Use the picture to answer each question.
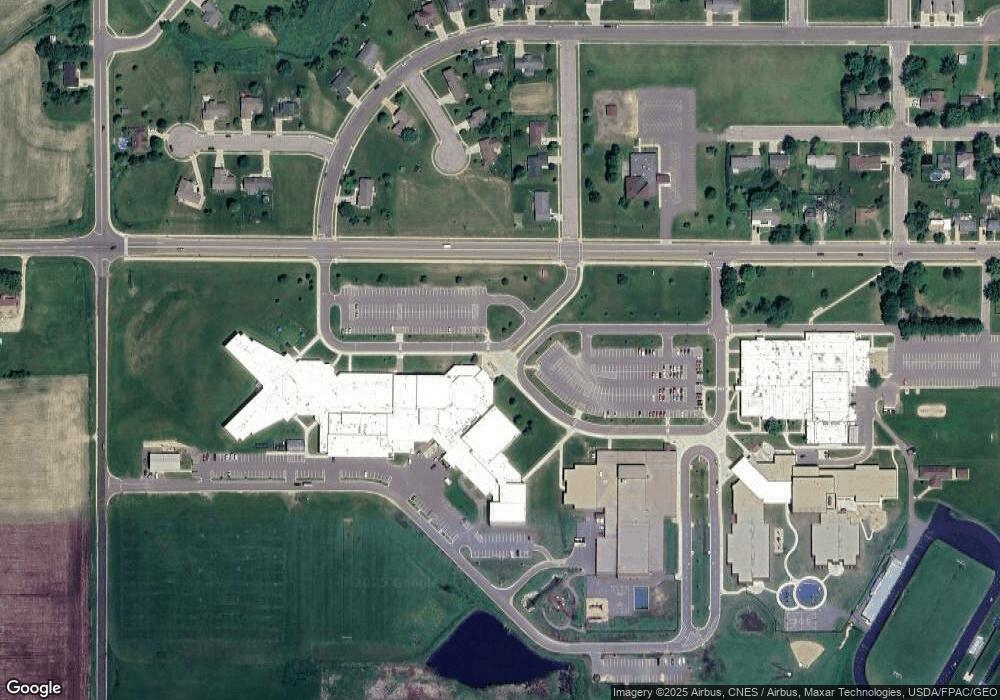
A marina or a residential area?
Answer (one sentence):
This image shows a residential area.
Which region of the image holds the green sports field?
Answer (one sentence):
The green sports field is in the bottom right part of the image.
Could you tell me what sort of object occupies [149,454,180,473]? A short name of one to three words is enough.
building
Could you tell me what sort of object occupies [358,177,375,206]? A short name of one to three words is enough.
house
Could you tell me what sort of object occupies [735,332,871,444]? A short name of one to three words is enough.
building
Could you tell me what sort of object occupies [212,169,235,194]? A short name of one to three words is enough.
house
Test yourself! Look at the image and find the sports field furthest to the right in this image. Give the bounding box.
[866,540,994,700]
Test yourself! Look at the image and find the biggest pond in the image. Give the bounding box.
[426,609,570,688]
